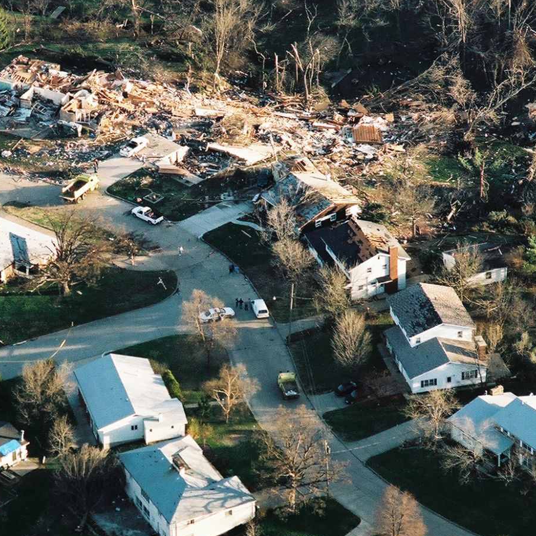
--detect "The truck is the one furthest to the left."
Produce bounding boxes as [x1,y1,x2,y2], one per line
[59,171,101,203]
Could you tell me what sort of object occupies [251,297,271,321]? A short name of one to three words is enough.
vehicle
